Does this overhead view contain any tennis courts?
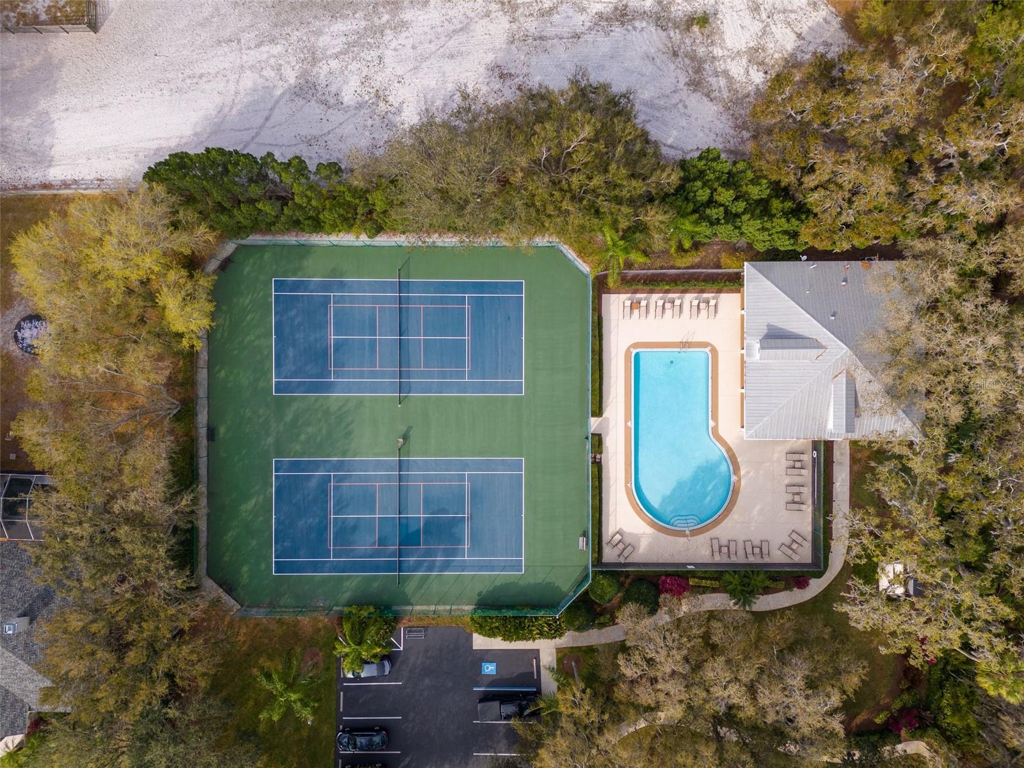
Yes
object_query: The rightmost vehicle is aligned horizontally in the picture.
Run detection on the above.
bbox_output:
[477,694,540,723]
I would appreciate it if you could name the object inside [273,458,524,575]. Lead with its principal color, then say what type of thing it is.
blue tennis court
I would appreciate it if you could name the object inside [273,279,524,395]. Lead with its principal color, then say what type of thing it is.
blue tennis court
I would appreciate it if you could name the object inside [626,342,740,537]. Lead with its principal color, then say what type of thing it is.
blue swimming pool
